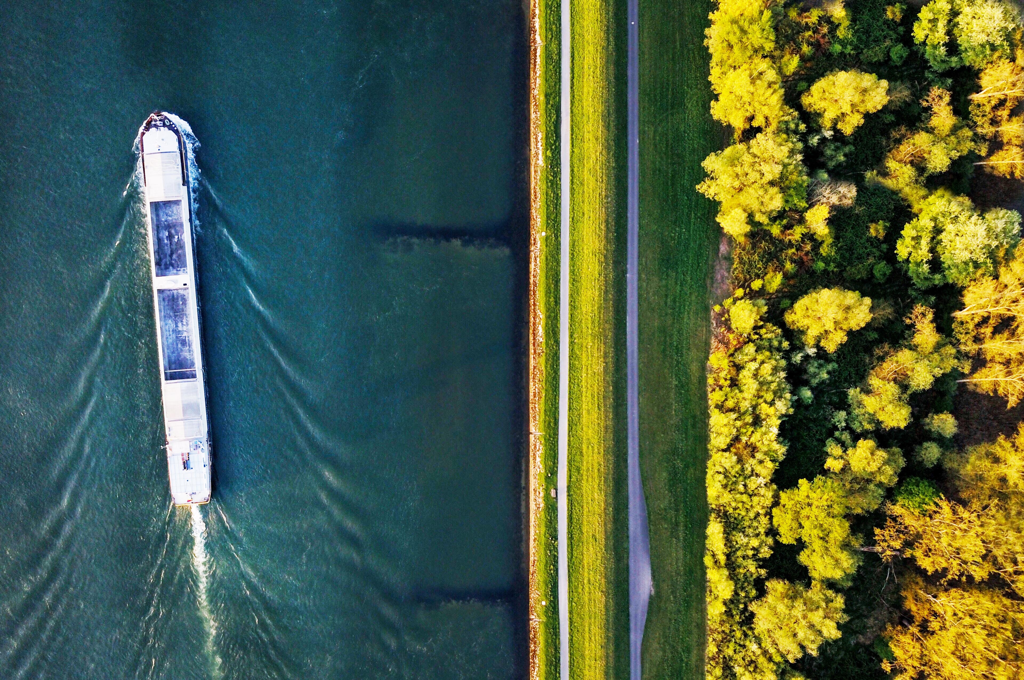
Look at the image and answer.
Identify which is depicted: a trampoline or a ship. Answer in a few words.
ship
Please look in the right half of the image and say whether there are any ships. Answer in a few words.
No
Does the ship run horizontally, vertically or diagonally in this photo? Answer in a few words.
vertically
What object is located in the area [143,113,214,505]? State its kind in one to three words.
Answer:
ship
